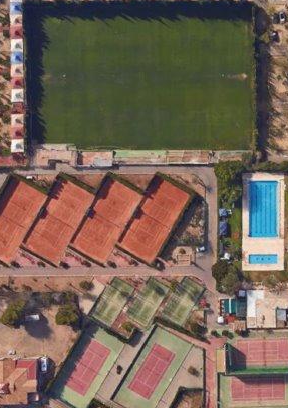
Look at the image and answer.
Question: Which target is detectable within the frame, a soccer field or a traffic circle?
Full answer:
There is a soccer field in the scene.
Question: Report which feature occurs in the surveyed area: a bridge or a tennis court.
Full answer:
This aerial view contains a tennis court.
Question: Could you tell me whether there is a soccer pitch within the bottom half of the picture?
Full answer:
No, looking within the bottom half of the picture, there is no soccer pitch.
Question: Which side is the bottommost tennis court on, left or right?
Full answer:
It is on the right.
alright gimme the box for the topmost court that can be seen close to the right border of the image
[226,331,288,373]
